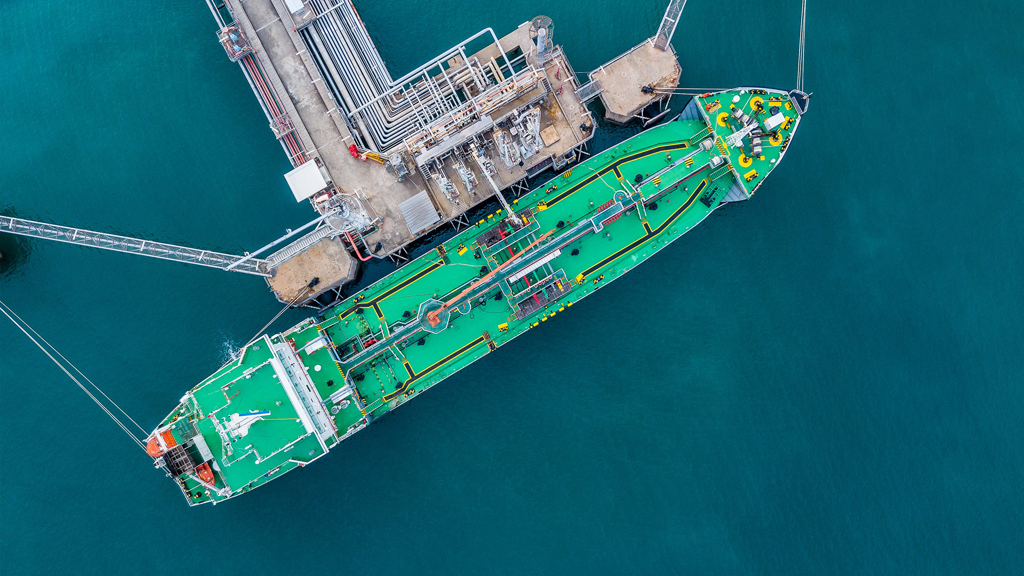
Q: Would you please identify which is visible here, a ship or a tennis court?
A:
ship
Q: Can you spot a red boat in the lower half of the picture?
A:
Yes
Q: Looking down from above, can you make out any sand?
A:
No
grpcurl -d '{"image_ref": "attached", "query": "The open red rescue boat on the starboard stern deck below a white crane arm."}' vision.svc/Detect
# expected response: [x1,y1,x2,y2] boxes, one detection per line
[190,460,216,488]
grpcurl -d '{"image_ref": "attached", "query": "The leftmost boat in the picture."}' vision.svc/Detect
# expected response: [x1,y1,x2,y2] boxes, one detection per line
[141,429,179,457]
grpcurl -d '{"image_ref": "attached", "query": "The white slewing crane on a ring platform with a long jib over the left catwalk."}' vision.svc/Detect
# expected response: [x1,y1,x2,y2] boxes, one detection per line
[224,190,371,271]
